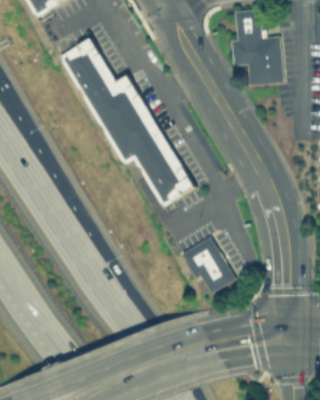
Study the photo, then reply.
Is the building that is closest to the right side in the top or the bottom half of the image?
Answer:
top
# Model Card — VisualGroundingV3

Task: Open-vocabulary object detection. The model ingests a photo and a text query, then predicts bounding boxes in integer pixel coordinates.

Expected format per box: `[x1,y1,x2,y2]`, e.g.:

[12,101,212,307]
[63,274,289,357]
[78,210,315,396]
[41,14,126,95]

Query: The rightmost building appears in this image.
[232,10,283,85]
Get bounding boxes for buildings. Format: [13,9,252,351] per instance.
[25,0,63,17]
[62,38,193,208]
[232,10,283,85]
[184,236,236,292]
